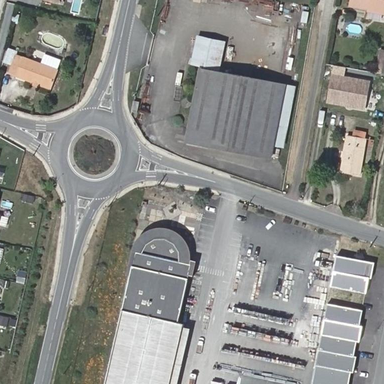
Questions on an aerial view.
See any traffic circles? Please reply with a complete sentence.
Yes, a traffic circle can be made out from above.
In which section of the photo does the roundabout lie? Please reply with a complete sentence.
The roundabout appears toward the left of the photo.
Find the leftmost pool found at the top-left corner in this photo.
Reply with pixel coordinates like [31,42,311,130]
[41,32,66,50]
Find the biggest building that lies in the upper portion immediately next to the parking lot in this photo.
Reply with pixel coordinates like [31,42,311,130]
[184,68,286,158]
